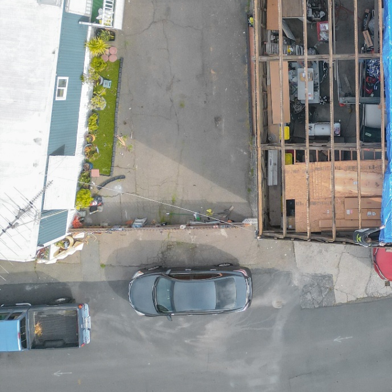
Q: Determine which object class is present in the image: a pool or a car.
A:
car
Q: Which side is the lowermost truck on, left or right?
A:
left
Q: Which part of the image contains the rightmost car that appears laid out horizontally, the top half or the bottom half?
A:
bottom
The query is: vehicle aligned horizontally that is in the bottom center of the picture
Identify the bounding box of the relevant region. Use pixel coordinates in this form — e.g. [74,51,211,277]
[129,263,253,322]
